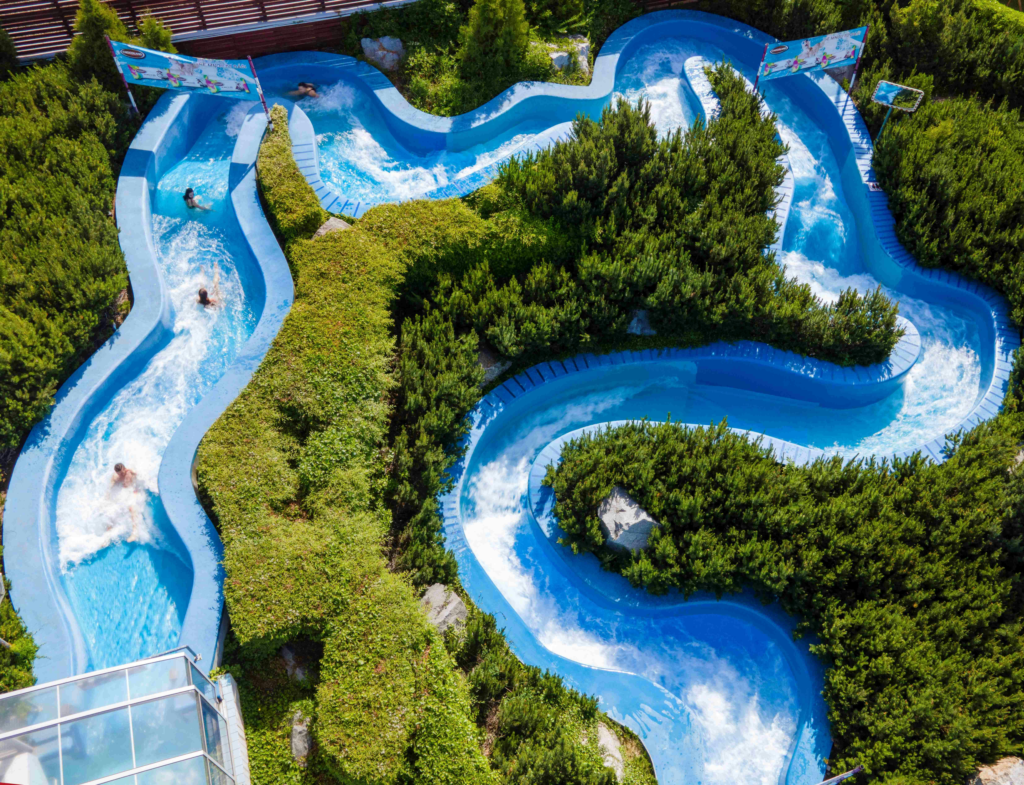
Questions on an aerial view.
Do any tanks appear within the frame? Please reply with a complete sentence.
No, there isn't any tank down there.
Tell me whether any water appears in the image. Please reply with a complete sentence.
Yes, some water is visible.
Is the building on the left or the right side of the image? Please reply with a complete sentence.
The building sits on the left side.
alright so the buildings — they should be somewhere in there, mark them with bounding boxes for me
[0,651,237,785]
